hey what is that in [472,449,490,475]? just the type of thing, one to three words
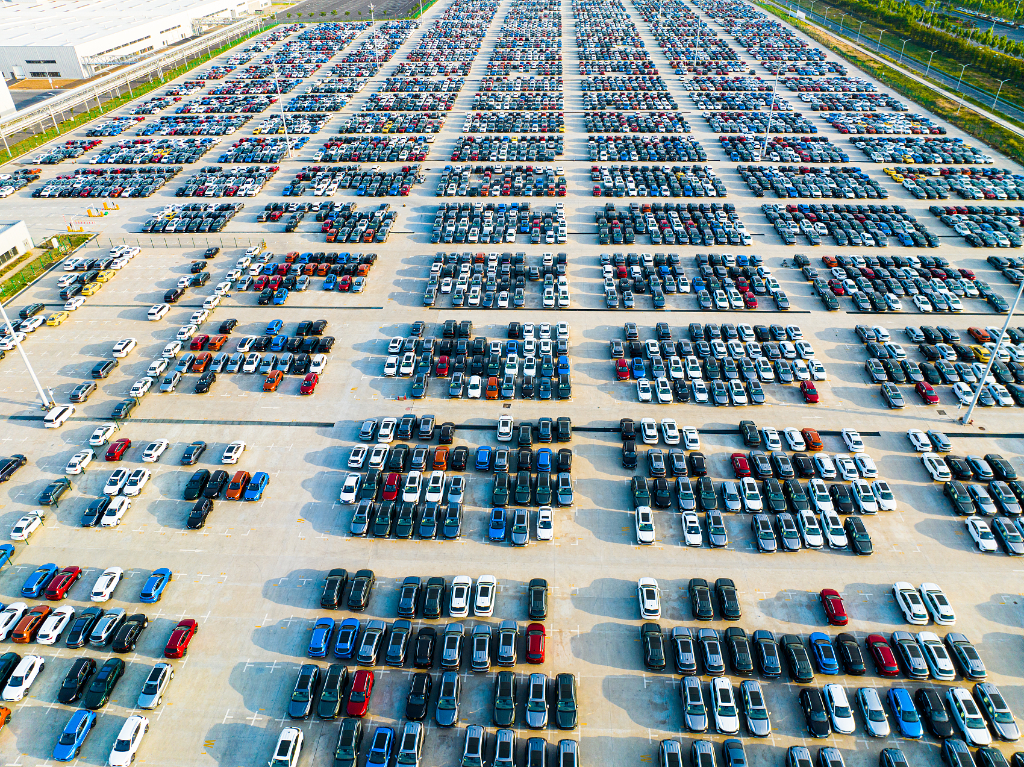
car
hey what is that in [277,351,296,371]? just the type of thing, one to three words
car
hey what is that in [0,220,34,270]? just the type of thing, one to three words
building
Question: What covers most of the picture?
paved ground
